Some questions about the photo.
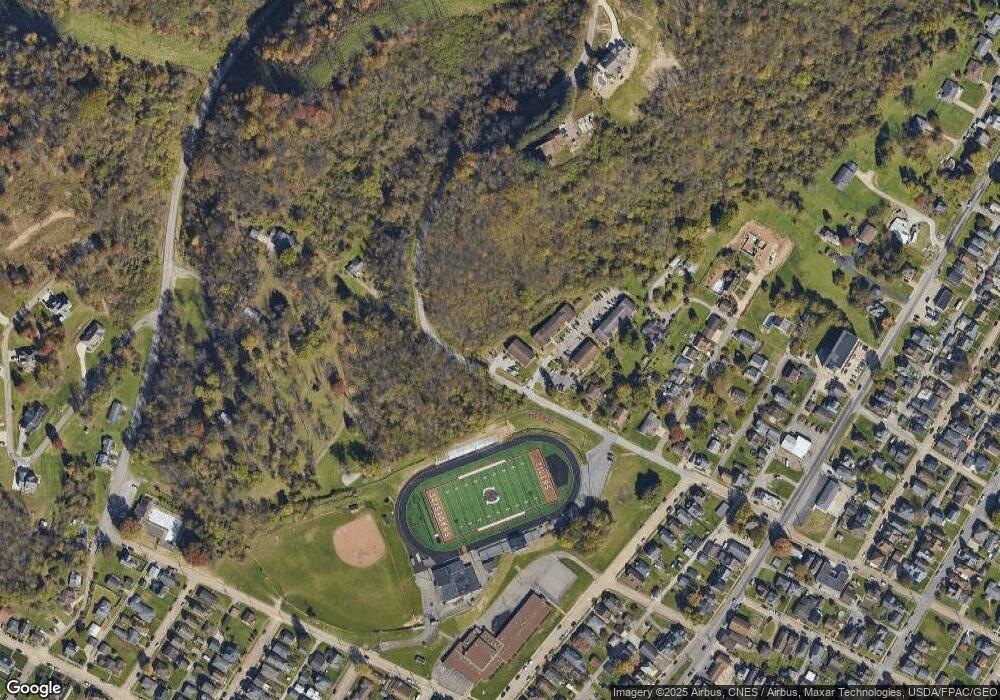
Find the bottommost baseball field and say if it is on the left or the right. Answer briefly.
left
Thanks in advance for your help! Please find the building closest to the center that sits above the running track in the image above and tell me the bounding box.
[505,338,536,367]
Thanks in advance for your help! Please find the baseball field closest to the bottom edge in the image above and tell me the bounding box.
[286,515,402,587]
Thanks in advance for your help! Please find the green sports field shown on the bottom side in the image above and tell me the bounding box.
[409,439,572,553]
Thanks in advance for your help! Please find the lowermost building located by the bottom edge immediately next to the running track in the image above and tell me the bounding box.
[444,595,552,685]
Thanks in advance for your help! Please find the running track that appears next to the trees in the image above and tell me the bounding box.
[401,432,581,560]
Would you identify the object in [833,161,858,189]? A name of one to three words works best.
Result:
barn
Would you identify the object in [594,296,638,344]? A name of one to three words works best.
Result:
building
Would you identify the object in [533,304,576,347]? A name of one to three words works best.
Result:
building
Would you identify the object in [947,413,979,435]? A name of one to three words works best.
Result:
house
